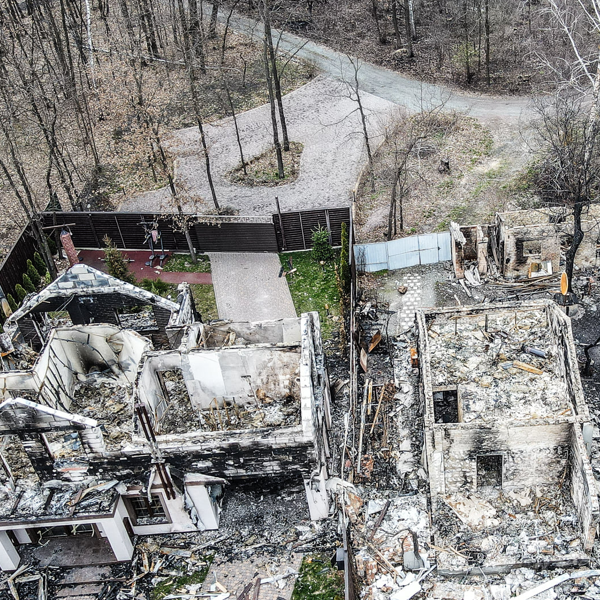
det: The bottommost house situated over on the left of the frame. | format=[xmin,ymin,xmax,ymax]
[0,255,347,594]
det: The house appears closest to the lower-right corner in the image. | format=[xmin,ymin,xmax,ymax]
[415,300,598,570]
